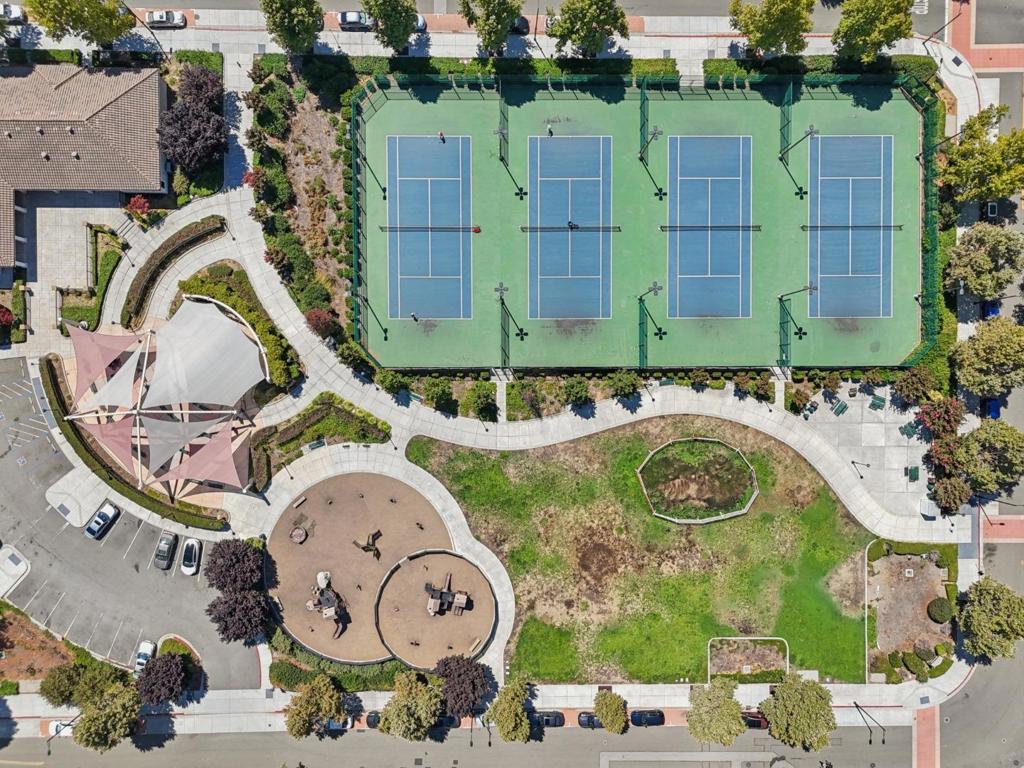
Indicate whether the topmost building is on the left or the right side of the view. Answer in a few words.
left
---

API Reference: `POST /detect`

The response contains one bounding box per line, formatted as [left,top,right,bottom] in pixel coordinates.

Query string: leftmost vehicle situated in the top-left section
[0,3,30,24]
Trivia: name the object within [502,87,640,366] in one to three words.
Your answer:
tennis court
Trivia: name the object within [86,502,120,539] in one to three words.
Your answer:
car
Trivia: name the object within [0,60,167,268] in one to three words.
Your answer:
building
